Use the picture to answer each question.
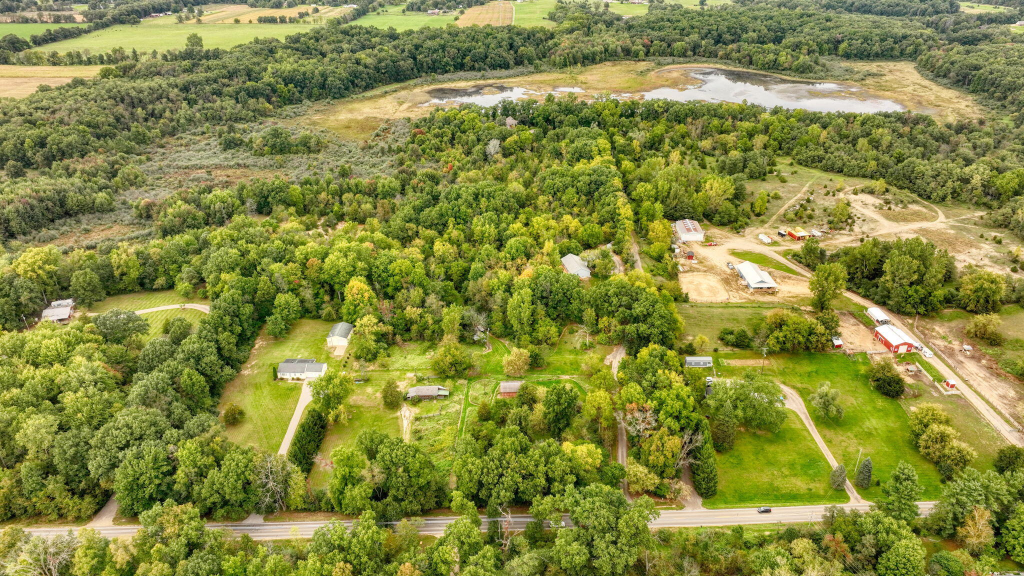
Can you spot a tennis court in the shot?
No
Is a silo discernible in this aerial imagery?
No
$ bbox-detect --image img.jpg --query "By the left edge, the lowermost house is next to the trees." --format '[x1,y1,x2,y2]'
[40,305,79,328]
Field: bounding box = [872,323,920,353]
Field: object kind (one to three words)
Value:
barn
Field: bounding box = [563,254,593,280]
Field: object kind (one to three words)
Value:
house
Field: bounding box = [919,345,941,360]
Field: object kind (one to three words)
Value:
vehicle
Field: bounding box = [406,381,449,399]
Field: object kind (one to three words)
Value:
barn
